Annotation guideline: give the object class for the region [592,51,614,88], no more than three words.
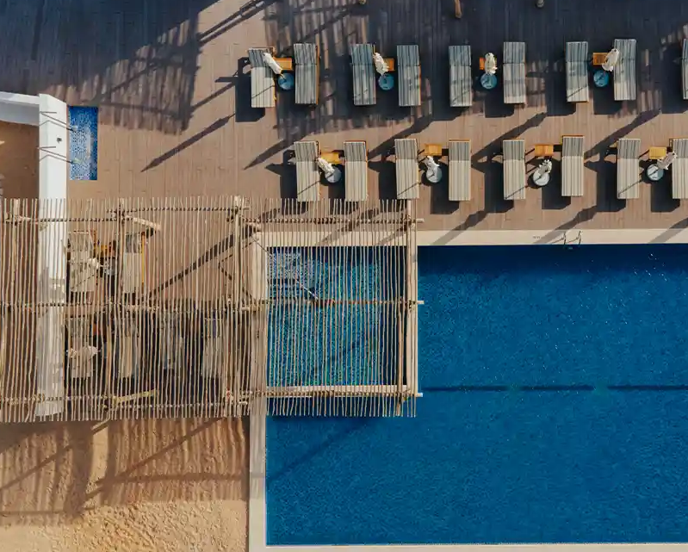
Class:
umbrella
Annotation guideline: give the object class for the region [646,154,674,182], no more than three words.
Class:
umbrella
